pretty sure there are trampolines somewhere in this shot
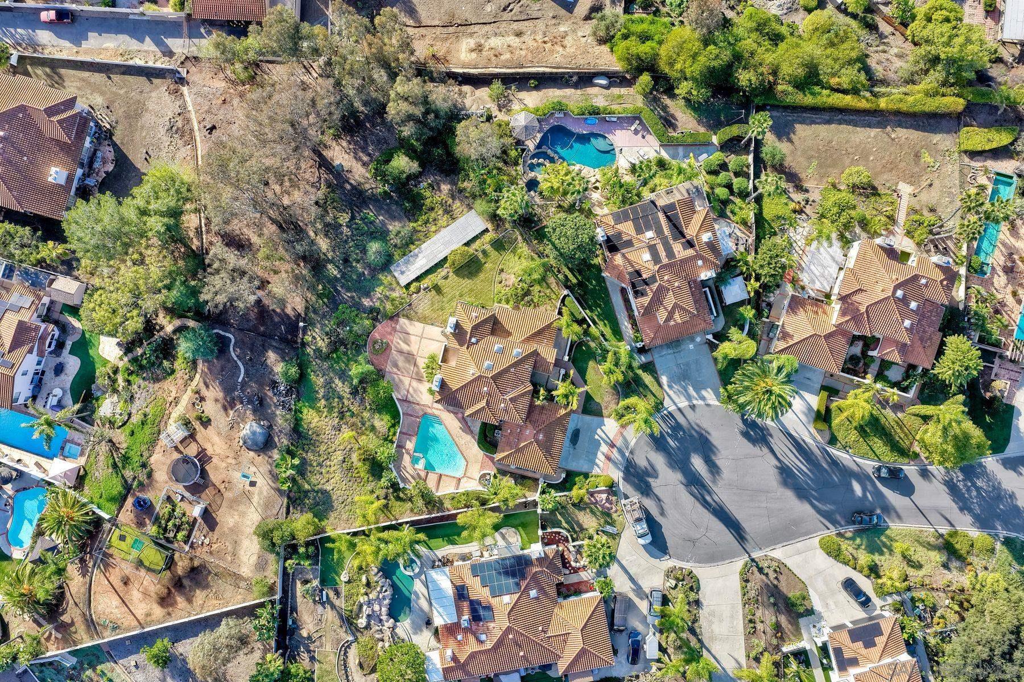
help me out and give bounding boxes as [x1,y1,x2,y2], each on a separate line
[132,496,149,512]
[162,457,203,489]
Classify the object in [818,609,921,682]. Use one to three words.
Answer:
house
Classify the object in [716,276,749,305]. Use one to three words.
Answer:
gazebo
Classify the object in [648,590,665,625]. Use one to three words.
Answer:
car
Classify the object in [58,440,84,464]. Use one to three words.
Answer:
swimming pool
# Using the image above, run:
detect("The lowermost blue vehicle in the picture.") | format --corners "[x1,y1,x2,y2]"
[628,632,644,667]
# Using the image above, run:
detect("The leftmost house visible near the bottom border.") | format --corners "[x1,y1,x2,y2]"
[439,536,615,682]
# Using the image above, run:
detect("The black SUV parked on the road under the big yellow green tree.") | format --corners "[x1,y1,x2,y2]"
[873,465,908,481]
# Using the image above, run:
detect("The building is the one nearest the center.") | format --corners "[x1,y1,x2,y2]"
[430,301,573,476]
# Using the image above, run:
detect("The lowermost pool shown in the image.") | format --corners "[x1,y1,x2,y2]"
[377,557,416,625]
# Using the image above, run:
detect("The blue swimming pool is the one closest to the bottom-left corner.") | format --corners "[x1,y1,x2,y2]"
[5,485,51,552]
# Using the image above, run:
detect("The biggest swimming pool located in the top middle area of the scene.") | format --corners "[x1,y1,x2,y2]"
[535,123,619,170]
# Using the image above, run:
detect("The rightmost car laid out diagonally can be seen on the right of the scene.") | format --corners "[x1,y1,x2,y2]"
[843,577,873,611]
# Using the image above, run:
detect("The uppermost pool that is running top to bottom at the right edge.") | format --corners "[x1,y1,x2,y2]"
[970,168,1018,279]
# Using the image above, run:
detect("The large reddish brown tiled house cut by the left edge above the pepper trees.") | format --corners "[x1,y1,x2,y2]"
[0,72,99,220]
